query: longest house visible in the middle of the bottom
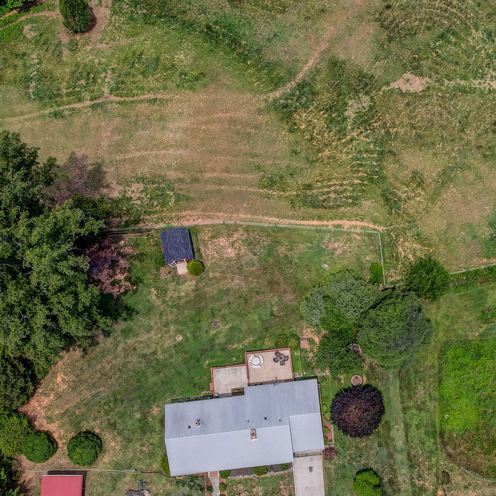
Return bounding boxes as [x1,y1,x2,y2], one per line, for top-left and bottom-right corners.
[162,378,325,477]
